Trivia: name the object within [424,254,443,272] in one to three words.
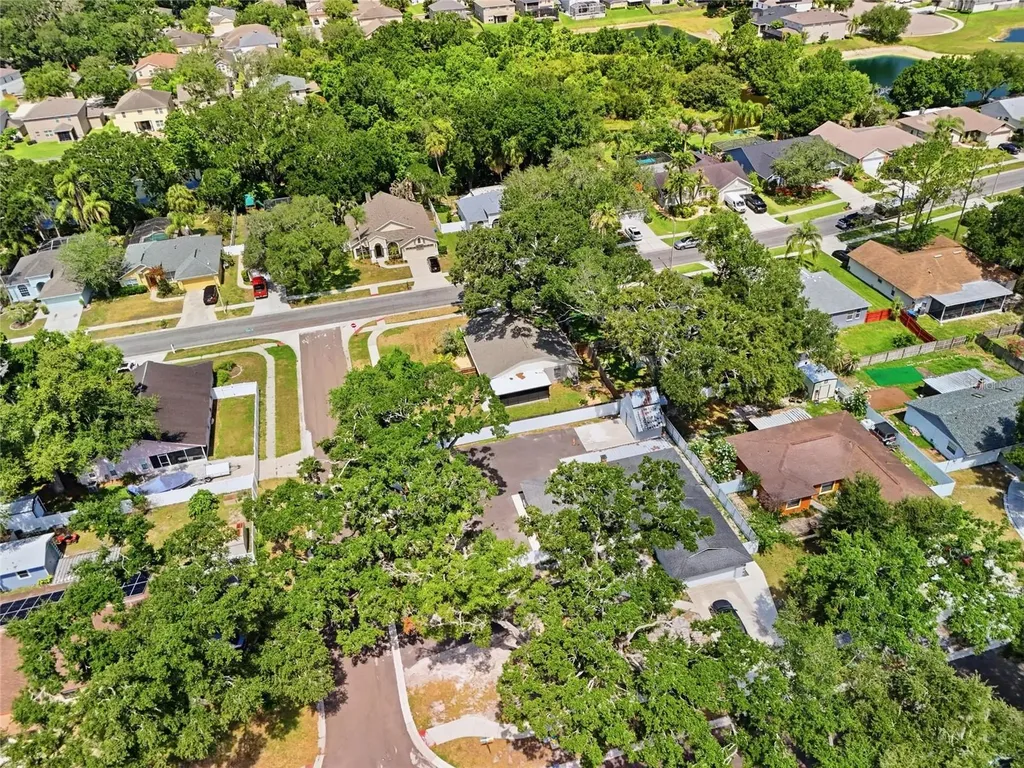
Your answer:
car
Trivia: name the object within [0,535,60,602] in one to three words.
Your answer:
shed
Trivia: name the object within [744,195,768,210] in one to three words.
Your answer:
vehicle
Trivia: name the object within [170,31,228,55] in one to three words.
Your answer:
house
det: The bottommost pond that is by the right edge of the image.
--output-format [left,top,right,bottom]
[846,55,1007,111]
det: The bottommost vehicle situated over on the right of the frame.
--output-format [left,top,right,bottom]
[709,590,754,635]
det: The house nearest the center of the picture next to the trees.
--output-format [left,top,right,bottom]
[470,302,583,415]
